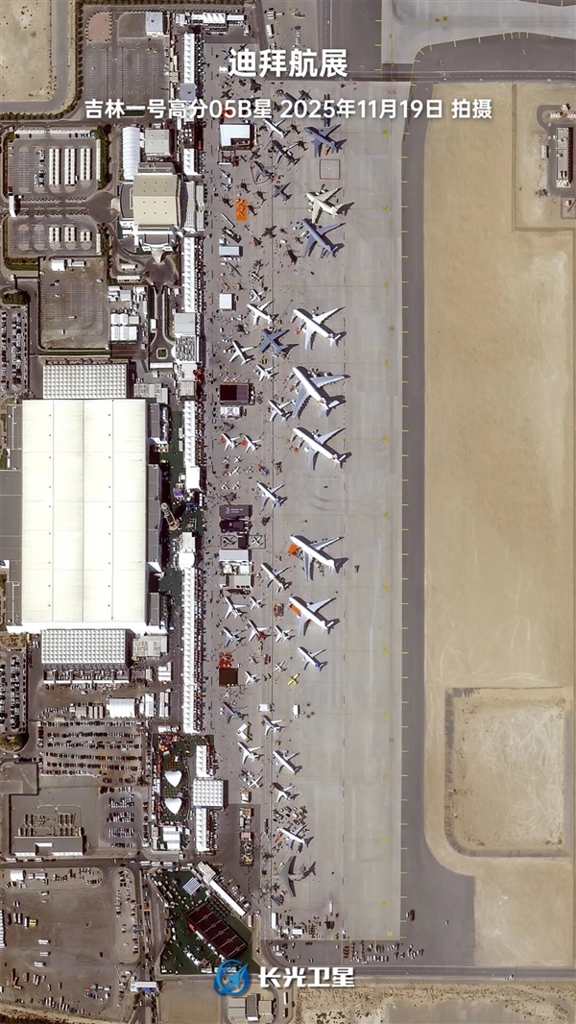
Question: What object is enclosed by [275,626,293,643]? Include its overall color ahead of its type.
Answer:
white airplane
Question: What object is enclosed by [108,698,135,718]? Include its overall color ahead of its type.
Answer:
white tent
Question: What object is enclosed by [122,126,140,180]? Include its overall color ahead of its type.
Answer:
white tent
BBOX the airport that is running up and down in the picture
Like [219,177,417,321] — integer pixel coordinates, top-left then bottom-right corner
[198,0,576,966]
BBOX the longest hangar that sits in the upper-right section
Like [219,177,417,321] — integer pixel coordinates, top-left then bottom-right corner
[556,128,570,191]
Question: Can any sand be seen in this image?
Yes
